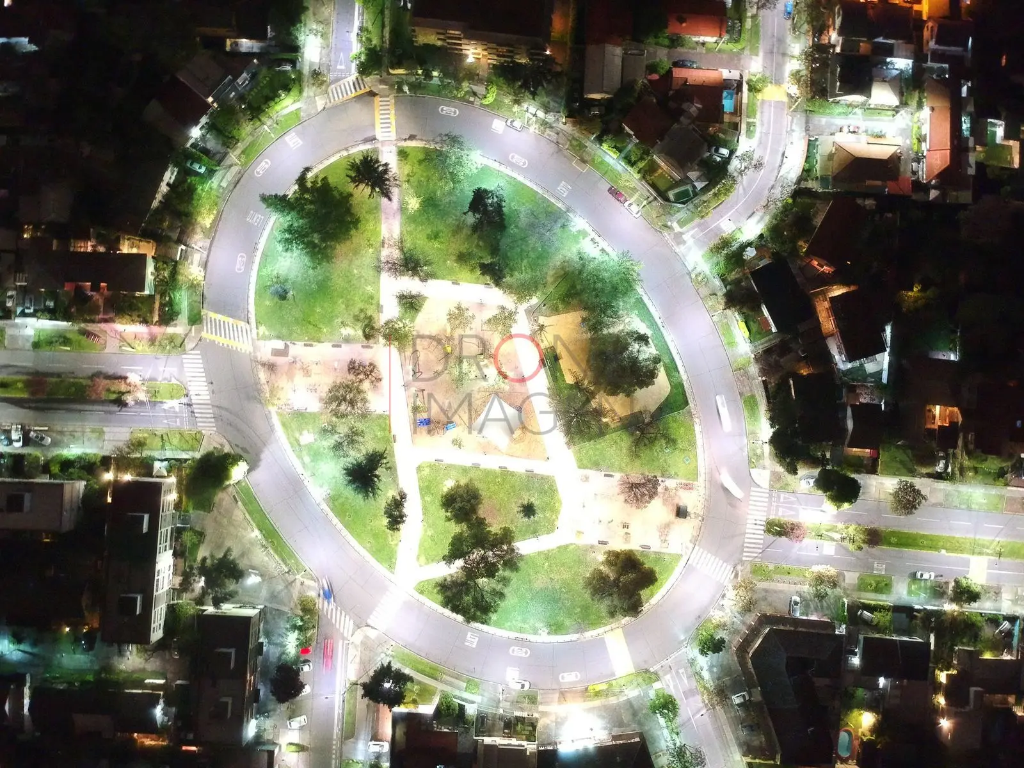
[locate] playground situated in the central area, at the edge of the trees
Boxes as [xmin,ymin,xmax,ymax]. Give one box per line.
[401,299,549,460]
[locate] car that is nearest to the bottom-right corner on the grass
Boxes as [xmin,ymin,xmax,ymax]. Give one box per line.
[995,620,1011,636]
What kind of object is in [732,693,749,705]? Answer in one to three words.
vehicle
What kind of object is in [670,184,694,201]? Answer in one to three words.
swimming pool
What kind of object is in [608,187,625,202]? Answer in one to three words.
car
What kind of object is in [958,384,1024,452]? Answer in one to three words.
house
